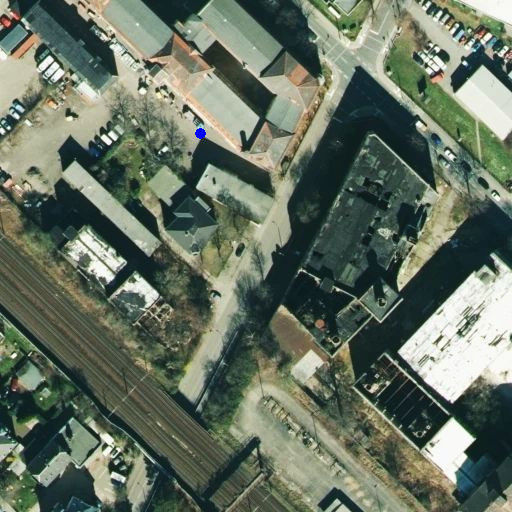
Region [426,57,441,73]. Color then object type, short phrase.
white vehicle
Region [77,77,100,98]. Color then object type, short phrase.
white truck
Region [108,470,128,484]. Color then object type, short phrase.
white vehicle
